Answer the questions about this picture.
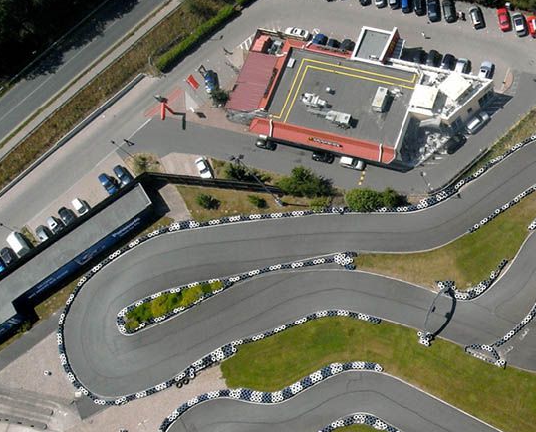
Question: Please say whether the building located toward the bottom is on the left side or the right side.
left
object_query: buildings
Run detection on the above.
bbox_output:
[0,182,159,337]
[227,26,497,172]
